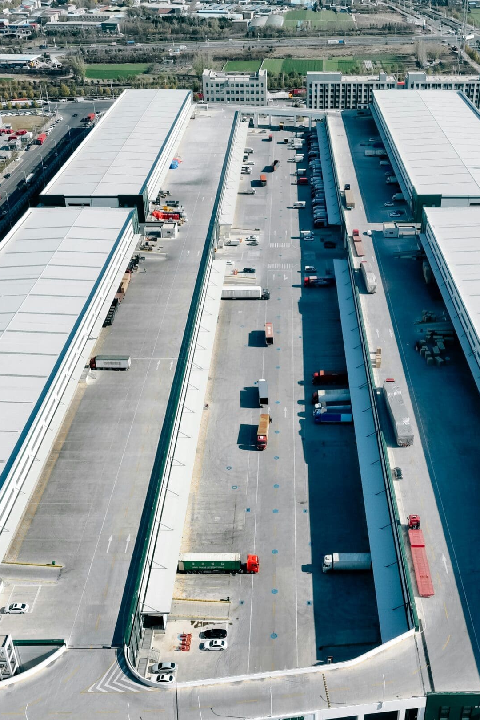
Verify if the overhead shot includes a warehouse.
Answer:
Yes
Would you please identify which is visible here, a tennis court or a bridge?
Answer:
bridge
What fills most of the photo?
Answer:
paved ground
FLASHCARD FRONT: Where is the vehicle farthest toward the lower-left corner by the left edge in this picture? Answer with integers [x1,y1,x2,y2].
[6,601,34,614]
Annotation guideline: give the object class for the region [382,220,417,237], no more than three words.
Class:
shed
